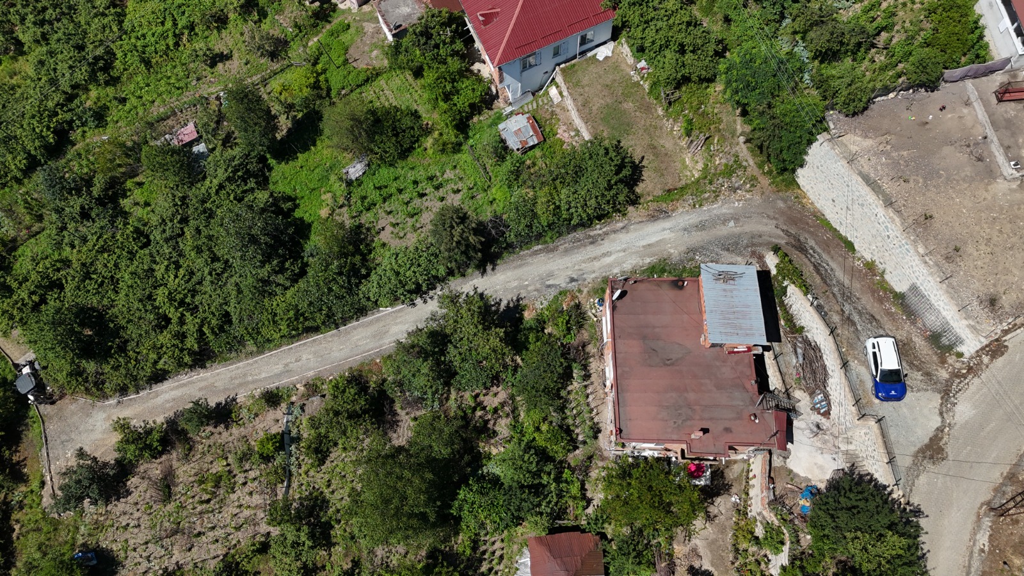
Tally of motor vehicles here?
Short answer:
2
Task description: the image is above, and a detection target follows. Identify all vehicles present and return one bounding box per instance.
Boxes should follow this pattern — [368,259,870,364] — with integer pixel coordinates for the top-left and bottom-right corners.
[863,334,912,404]
[14,357,78,422]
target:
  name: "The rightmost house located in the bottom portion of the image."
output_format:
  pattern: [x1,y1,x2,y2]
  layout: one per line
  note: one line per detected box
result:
[604,264,788,464]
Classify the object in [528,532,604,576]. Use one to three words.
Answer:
shed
